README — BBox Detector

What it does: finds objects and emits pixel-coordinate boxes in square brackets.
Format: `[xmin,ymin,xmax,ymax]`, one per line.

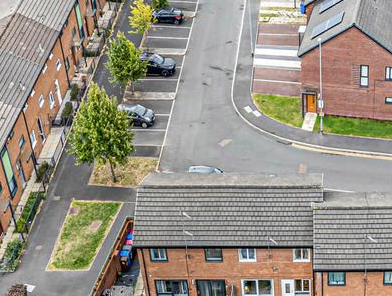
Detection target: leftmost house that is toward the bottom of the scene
[132,172,318,296]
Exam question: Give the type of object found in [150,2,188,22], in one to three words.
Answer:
car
